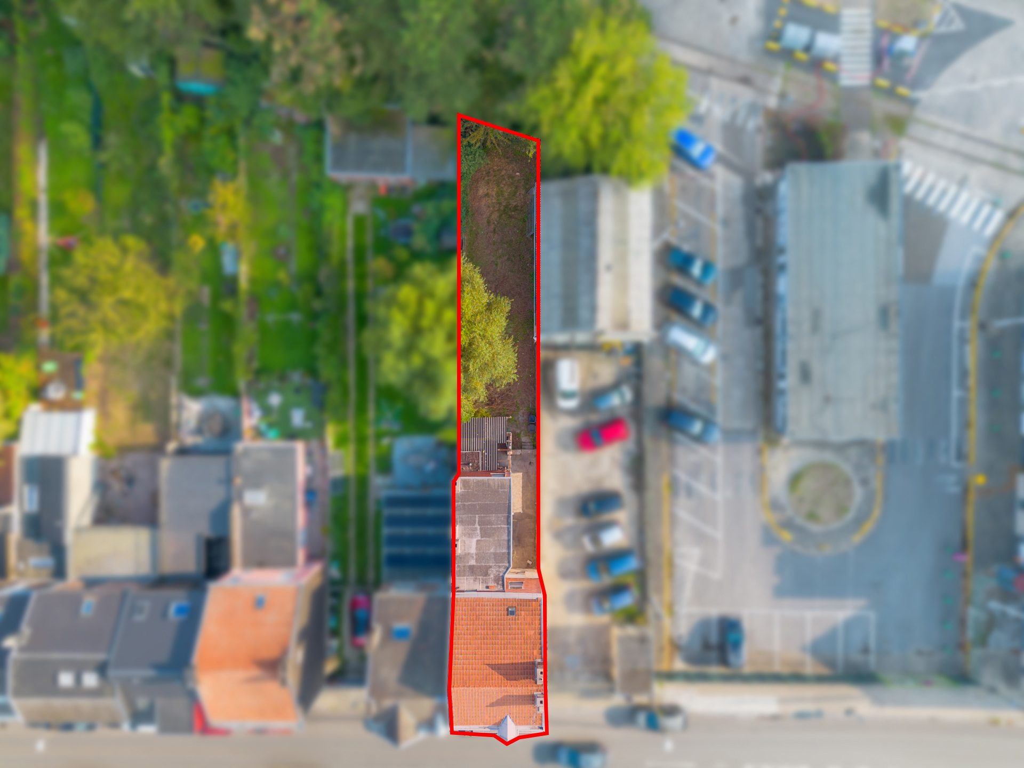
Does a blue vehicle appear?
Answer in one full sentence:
Yes, the picture does show a blue vehicle.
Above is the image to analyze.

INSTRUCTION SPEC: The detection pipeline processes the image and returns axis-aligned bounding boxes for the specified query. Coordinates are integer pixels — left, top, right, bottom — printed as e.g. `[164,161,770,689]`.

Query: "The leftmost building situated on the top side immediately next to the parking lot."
[534,175,653,342]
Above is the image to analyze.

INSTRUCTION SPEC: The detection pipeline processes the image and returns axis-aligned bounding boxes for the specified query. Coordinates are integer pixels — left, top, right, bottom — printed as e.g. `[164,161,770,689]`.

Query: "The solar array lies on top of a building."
[386,492,453,569]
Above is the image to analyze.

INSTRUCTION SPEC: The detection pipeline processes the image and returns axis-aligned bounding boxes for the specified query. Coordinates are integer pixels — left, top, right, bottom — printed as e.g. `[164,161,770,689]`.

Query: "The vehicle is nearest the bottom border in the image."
[547,738,611,768]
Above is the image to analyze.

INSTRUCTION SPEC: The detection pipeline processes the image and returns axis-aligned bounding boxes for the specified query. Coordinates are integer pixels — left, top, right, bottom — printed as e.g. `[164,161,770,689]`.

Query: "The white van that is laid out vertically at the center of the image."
[554,354,582,412]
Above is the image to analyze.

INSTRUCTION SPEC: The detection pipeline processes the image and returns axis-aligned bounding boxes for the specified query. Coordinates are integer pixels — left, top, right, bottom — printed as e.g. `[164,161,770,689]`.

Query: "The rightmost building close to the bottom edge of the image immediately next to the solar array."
[449,572,548,742]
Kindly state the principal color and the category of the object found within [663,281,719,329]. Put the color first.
blue car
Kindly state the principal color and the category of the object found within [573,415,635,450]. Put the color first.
red car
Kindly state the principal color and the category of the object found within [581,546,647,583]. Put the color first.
blue car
